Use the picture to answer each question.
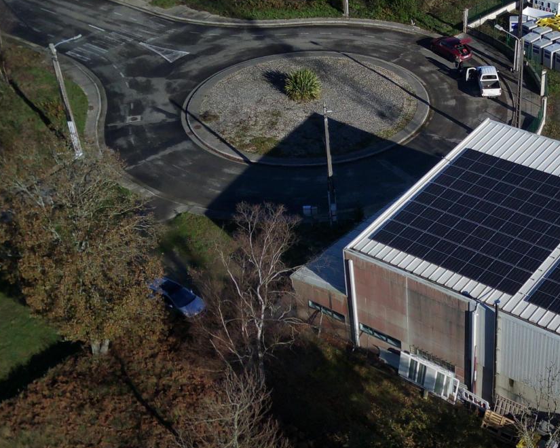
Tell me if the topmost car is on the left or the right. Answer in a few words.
right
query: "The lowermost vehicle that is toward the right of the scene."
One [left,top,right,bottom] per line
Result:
[472,61,502,93]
